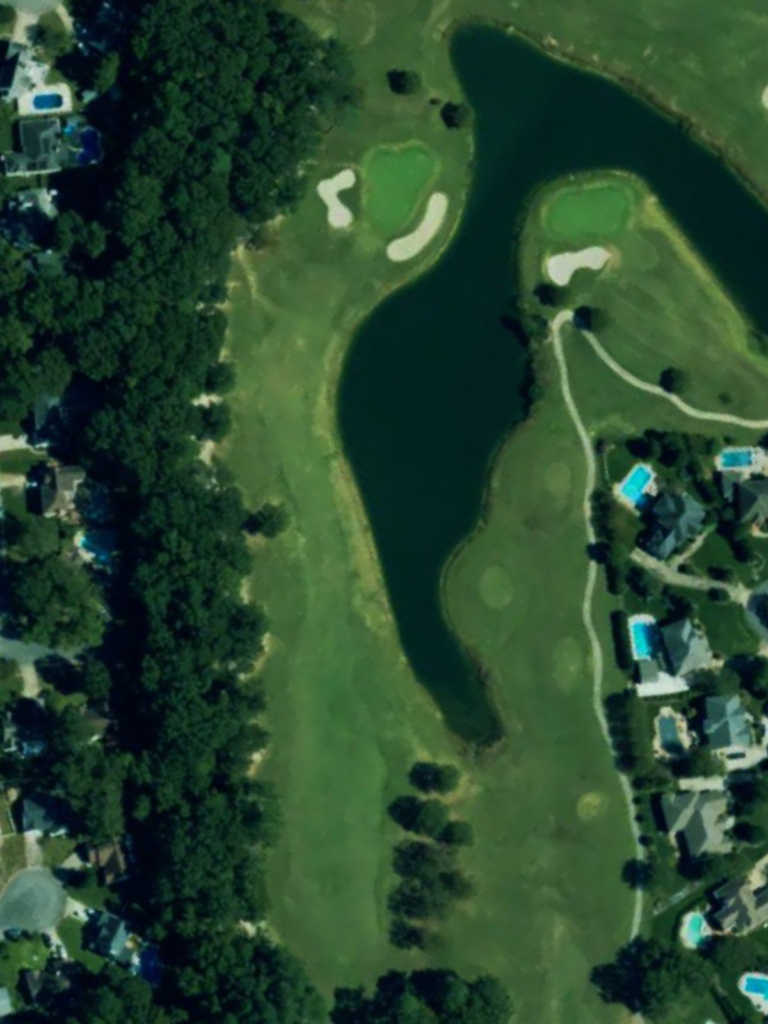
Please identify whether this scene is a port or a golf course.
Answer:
golf course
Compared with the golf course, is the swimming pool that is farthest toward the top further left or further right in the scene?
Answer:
to its left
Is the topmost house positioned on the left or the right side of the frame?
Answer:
left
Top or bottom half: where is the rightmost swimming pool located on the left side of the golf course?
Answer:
bottom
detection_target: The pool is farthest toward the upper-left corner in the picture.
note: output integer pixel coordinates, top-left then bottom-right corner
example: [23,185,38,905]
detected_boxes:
[18,84,72,115]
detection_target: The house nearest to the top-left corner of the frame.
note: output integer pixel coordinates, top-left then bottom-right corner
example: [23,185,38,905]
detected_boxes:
[0,41,44,102]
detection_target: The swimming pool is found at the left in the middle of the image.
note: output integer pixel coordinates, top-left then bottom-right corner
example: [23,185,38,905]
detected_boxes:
[73,528,120,562]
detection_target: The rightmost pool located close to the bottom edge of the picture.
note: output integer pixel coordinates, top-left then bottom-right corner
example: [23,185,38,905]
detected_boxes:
[739,971,768,1015]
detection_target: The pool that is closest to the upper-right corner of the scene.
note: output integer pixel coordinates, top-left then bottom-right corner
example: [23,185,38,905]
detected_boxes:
[716,446,768,474]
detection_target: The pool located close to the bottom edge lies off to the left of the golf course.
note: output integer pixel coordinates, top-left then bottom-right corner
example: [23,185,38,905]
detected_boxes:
[132,948,161,987]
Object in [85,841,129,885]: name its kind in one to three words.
house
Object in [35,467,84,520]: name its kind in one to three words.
house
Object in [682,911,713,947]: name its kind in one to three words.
swimming pool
